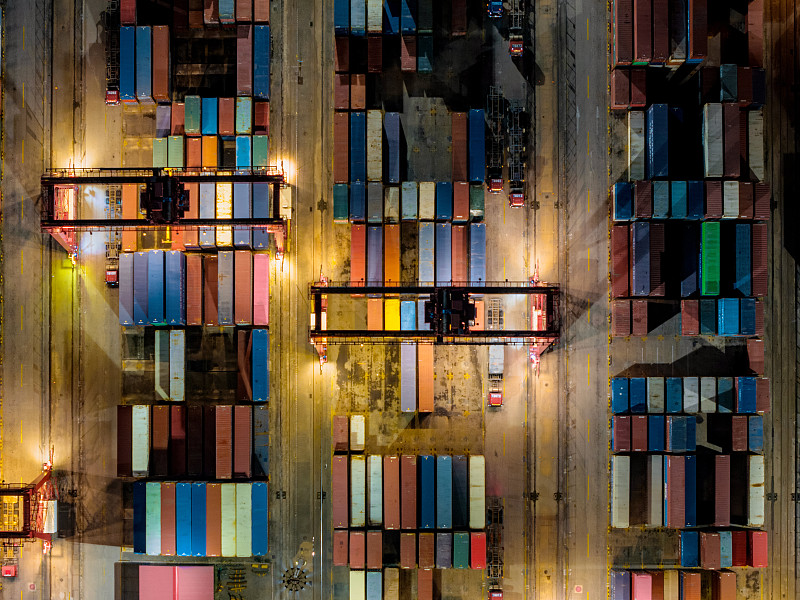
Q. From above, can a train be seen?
No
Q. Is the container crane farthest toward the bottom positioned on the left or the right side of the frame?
left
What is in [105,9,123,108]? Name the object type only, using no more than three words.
vehicle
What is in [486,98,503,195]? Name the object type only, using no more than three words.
vehicle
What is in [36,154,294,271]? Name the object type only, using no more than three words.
container crane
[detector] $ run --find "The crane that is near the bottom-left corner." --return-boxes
[0,445,61,562]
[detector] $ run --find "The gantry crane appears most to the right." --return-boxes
[309,257,566,374]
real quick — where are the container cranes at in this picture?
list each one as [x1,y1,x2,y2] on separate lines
[36,154,294,271]
[0,445,61,562]
[309,257,566,374]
